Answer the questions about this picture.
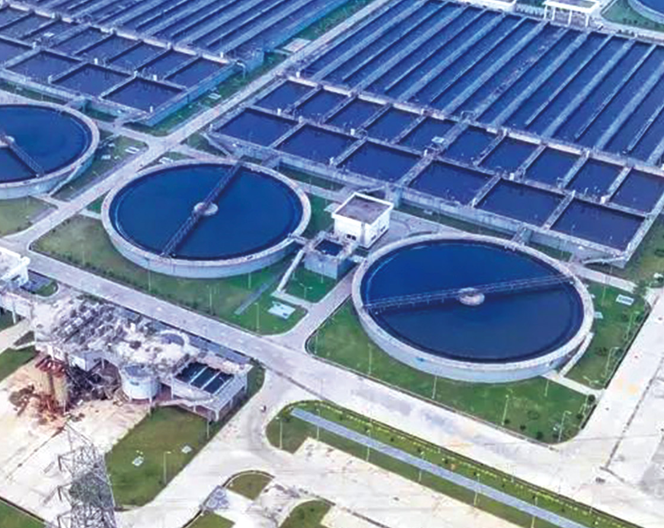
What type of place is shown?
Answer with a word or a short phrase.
industrial area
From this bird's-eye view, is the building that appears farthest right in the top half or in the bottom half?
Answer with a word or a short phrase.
top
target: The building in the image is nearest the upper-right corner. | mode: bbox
[540,0,600,32]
